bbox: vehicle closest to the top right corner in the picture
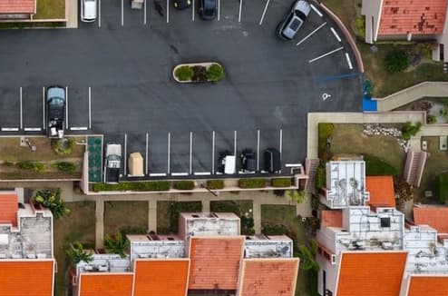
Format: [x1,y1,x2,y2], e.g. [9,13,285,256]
[276,0,309,40]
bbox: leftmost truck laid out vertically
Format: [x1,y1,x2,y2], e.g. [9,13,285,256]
[45,85,66,138]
